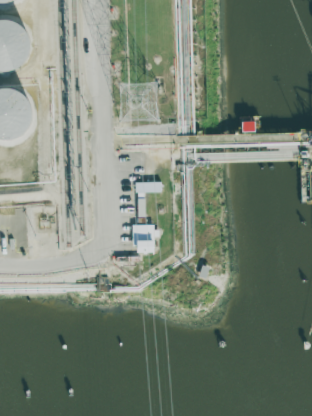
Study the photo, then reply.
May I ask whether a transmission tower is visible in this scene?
Yes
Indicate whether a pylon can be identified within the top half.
Yes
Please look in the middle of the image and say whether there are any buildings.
Yes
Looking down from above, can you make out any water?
Yes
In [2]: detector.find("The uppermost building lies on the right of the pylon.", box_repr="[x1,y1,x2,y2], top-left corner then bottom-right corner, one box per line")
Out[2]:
[240,114,261,132]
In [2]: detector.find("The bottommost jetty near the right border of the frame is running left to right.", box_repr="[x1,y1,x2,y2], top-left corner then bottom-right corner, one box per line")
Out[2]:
[224,148,300,162]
